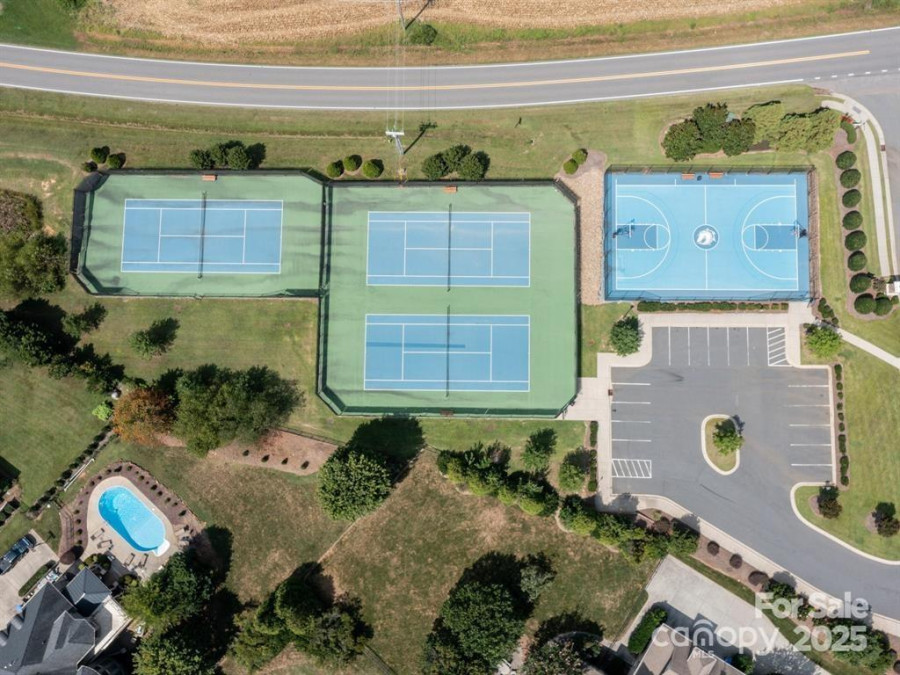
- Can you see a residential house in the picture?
Yes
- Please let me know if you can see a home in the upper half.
No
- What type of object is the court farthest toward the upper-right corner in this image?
basketball court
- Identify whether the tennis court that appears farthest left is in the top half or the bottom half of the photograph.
top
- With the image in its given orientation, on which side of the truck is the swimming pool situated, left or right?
to the right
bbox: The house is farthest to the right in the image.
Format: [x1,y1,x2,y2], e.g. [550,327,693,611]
[621,623,748,675]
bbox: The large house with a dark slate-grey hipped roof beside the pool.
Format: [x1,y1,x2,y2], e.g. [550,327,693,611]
[0,562,126,675]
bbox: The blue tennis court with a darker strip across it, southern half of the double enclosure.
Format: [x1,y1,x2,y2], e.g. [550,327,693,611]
[323,300,577,417]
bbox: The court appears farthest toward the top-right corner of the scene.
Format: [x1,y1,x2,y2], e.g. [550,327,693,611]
[604,172,809,301]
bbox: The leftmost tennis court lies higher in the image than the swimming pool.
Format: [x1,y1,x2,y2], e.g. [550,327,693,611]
[80,175,322,296]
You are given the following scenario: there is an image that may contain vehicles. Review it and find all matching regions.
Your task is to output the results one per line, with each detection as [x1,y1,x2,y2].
[0,537,34,578]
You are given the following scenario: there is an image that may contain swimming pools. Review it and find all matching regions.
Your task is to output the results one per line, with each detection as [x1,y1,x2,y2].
[80,476,193,584]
